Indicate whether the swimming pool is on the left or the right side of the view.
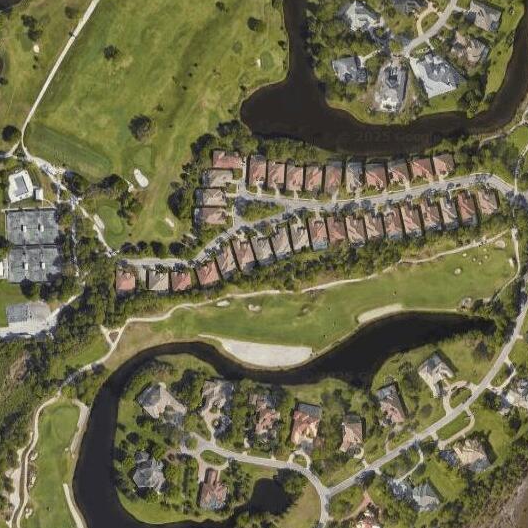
left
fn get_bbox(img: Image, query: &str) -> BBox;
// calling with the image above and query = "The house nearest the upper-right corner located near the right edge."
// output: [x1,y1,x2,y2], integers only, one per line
[470,0,503,31]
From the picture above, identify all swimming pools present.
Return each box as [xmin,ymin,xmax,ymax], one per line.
[9,171,33,203]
